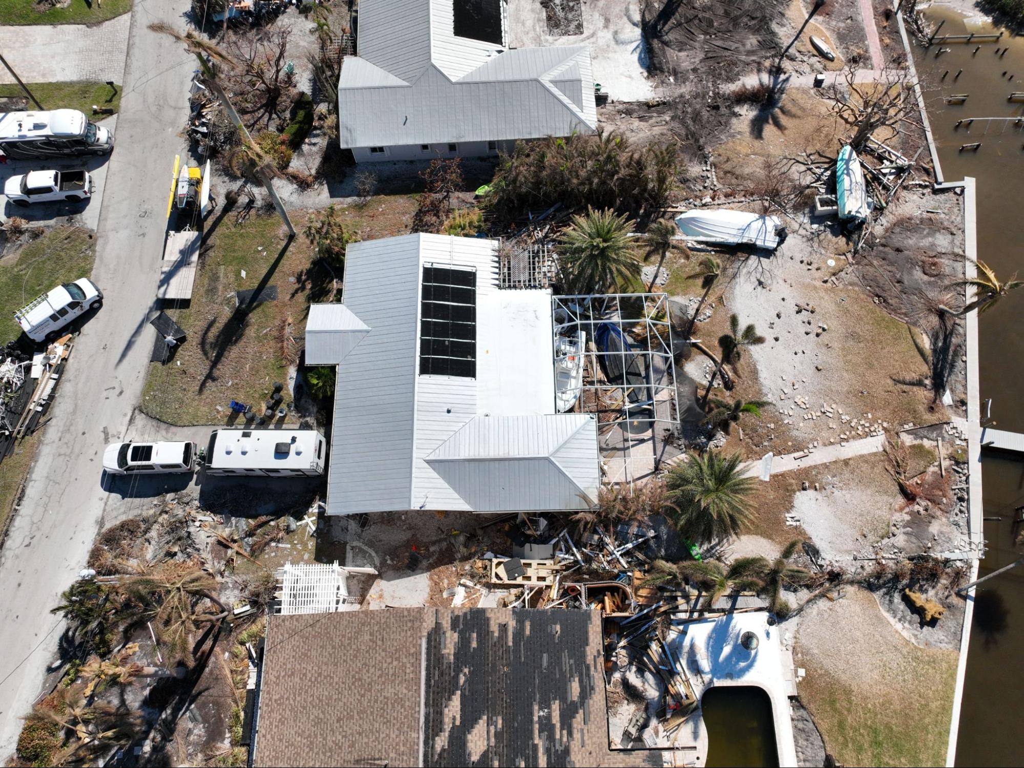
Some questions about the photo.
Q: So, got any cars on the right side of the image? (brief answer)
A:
No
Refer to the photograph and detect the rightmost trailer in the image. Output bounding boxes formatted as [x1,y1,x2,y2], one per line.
[209,429,330,479]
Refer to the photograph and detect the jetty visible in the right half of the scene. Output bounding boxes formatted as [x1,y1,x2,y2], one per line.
[979,418,1024,454]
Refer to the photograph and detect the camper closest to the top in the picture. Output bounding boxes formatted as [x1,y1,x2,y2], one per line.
[0,107,119,165]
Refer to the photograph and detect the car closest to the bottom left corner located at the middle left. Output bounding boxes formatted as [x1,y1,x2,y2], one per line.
[101,433,209,475]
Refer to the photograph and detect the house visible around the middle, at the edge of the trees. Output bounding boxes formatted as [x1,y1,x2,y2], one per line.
[305,232,603,515]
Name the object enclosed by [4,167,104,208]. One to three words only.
truck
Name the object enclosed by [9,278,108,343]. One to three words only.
van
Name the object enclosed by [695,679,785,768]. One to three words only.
swimming pool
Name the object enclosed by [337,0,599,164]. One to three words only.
house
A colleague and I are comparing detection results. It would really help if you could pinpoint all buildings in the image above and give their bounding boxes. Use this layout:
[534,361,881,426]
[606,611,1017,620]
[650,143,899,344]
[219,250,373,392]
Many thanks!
[337,0,599,164]
[305,232,603,515]
[250,610,702,768]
